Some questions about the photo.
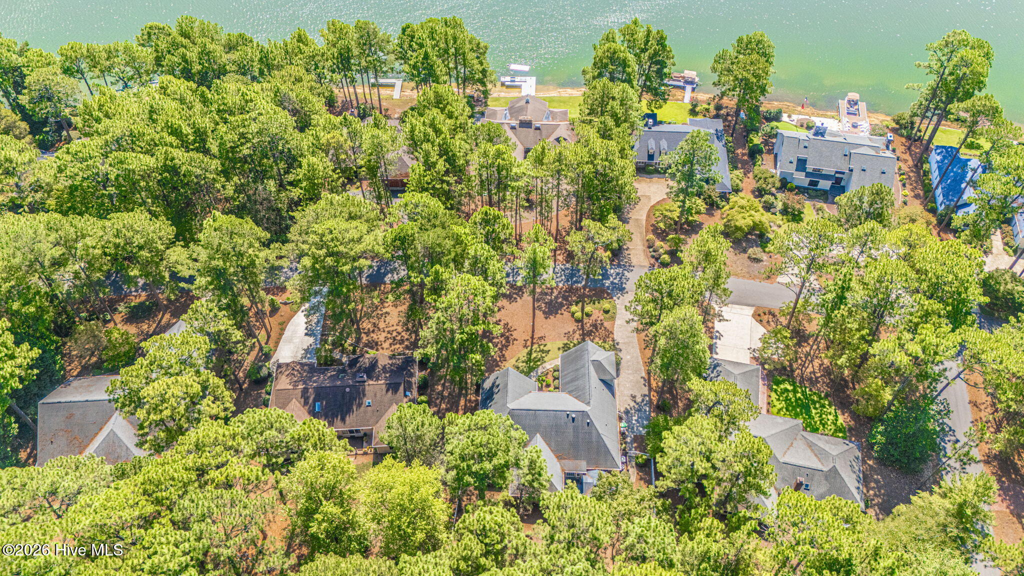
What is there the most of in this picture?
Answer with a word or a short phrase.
trees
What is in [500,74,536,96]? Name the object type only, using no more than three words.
pier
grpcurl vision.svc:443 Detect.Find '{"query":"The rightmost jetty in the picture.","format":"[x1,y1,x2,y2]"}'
[838,98,870,136]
